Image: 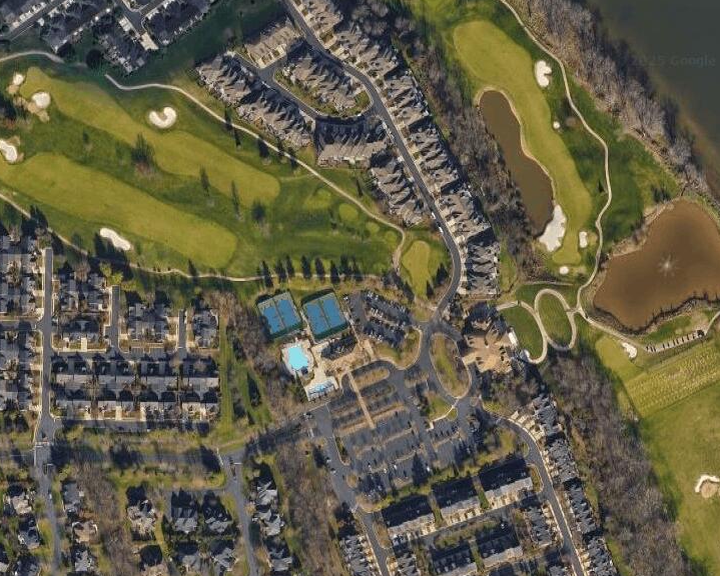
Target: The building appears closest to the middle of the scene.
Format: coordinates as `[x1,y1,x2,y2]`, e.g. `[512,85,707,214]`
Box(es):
[319,336,361,368]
